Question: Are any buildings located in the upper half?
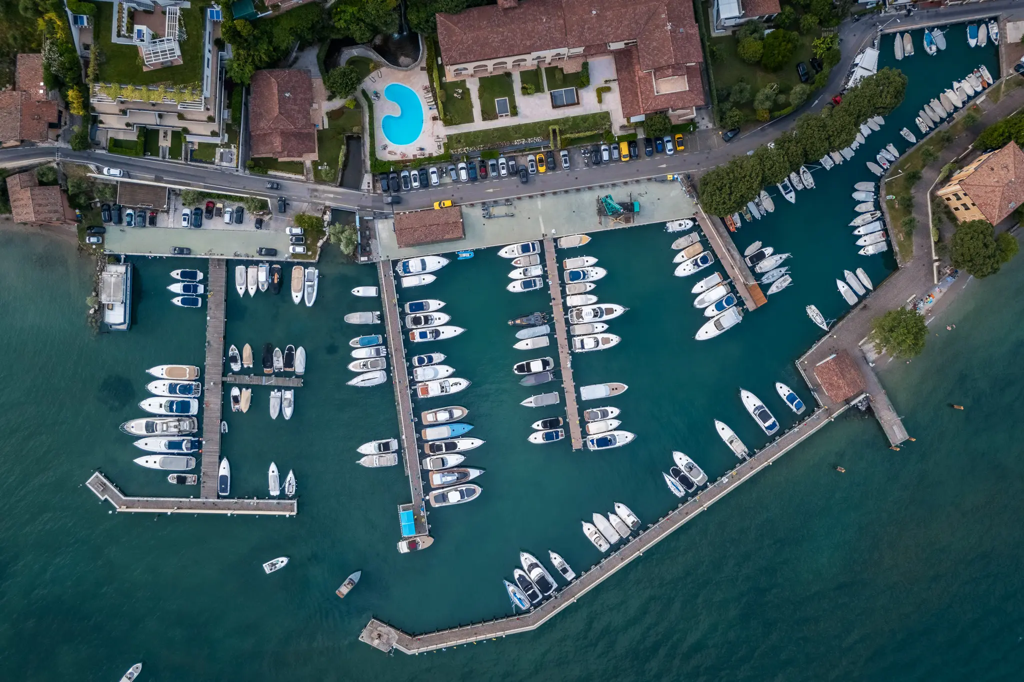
Yes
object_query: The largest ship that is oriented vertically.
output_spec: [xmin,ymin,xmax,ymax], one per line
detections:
[100,249,136,331]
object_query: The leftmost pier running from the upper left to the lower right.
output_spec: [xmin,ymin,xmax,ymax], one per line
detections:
[694,215,767,311]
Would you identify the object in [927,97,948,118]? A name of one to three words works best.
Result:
boat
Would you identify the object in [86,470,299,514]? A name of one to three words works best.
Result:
pier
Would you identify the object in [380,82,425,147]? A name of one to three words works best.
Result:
swimming pool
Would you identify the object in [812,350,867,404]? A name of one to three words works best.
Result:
building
